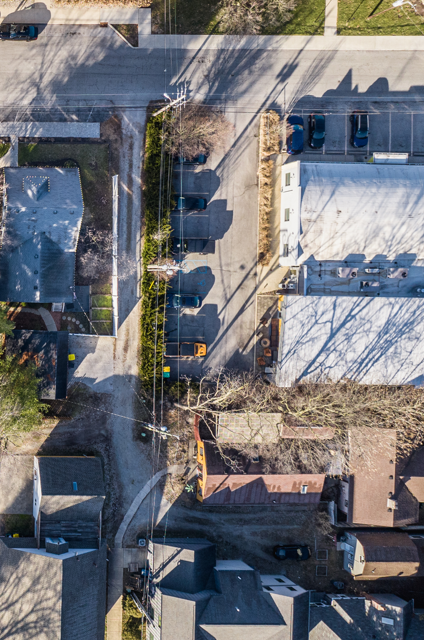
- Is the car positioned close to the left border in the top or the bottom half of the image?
top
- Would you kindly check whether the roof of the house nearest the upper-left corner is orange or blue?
blue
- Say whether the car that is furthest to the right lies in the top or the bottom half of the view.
top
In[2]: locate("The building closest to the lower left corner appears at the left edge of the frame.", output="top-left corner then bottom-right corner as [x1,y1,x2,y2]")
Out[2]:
[0,532,107,640]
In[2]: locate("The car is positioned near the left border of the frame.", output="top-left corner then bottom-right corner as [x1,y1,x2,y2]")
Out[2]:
[0,22,38,42]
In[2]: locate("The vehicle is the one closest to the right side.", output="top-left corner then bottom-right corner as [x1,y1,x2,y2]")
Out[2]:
[349,109,370,147]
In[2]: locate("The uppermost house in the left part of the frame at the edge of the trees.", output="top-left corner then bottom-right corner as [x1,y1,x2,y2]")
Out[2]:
[0,167,84,303]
